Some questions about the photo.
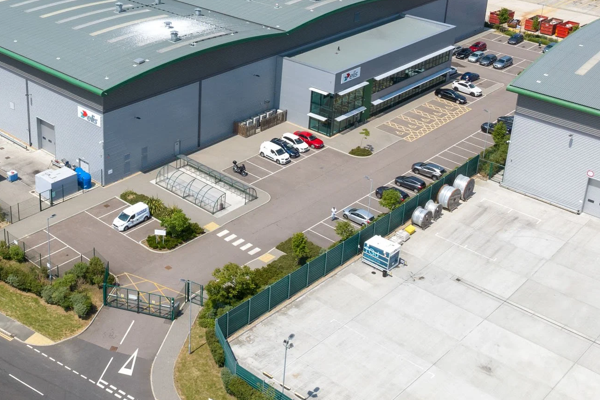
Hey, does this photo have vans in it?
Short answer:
Yes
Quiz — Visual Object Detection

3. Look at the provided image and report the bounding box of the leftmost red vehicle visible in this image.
[294,131,325,150]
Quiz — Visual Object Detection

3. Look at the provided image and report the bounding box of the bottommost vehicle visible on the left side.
[113,199,149,230]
